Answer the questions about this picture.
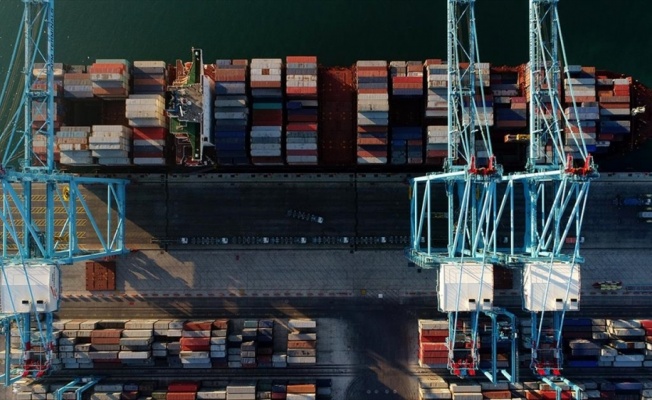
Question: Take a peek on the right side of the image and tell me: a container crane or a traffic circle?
container crane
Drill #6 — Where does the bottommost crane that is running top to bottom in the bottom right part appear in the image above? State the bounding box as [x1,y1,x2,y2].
[478,299,518,385]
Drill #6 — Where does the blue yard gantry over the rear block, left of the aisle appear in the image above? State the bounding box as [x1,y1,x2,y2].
[53,370,104,400]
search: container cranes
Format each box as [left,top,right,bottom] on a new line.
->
[401,0,504,375]
[475,0,604,375]
[0,0,135,375]
[53,370,104,400]
[533,373,582,400]
[478,299,518,385]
